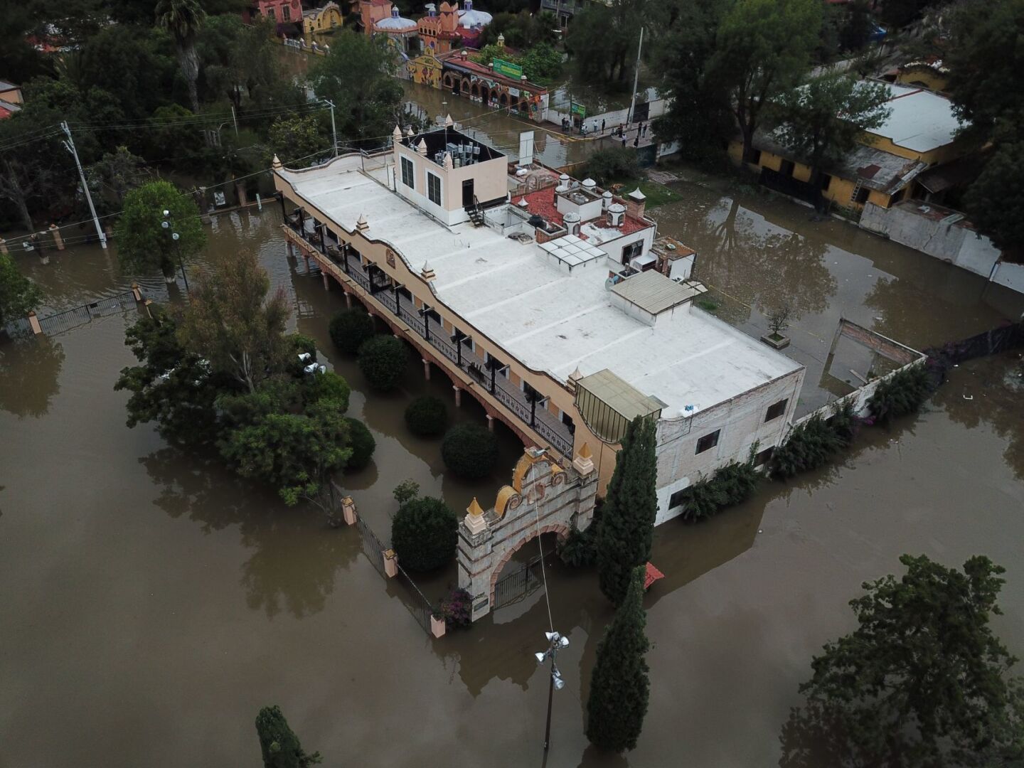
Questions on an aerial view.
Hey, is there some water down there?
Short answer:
Yes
